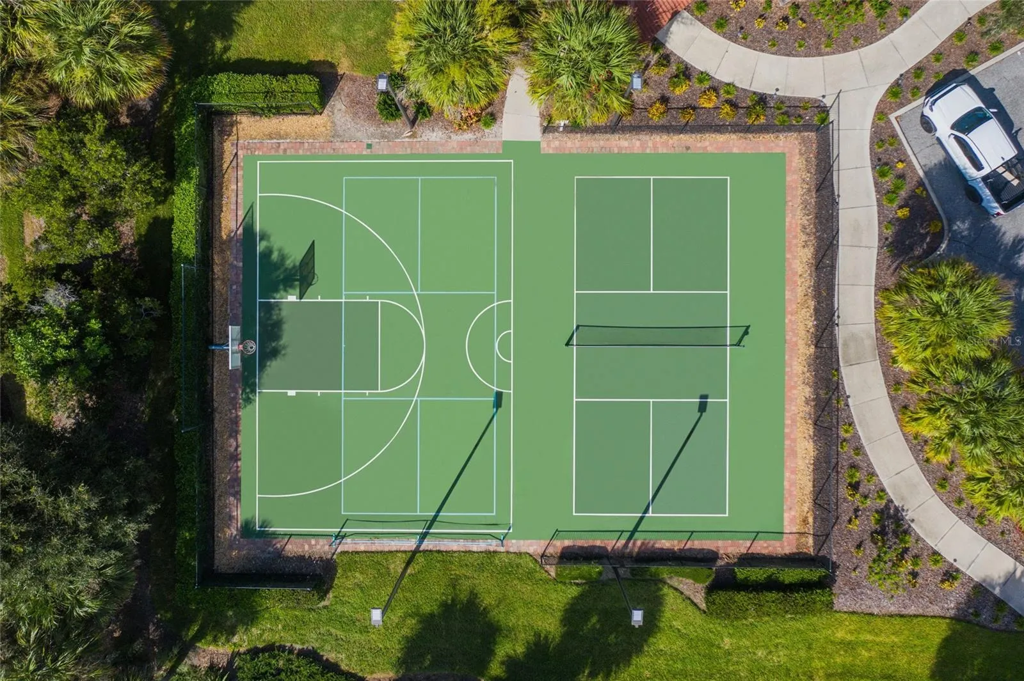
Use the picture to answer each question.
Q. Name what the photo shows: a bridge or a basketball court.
basketball court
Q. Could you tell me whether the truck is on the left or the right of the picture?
right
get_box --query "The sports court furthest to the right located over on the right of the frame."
[540,154,786,539]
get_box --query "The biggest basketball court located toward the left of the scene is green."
[241,141,542,539]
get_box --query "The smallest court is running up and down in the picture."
[341,177,497,515]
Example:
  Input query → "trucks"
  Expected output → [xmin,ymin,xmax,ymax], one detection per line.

[918,75,1024,221]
